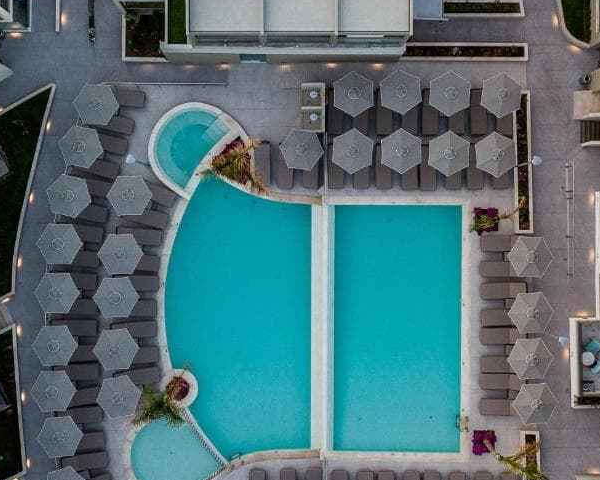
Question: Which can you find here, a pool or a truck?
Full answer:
Visible in the photo is a pool.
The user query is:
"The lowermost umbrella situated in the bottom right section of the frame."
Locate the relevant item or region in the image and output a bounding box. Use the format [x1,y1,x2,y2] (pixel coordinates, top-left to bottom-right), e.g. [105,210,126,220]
[510,381,556,425]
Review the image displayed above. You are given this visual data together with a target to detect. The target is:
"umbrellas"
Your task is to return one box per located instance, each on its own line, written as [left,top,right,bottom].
[479,72,522,118]
[428,69,469,115]
[30,370,76,411]
[429,129,470,176]
[510,381,556,425]
[333,127,374,174]
[73,85,120,127]
[379,129,420,176]
[379,68,420,114]
[506,291,553,332]
[474,131,517,177]
[57,124,103,168]
[38,223,85,265]
[506,236,552,278]
[107,175,154,216]
[99,233,147,274]
[281,128,327,172]
[35,274,82,315]
[34,326,82,367]
[49,465,90,480]
[506,336,553,378]
[93,275,140,316]
[95,373,142,418]
[38,415,85,458]
[46,176,92,220]
[94,330,141,372]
